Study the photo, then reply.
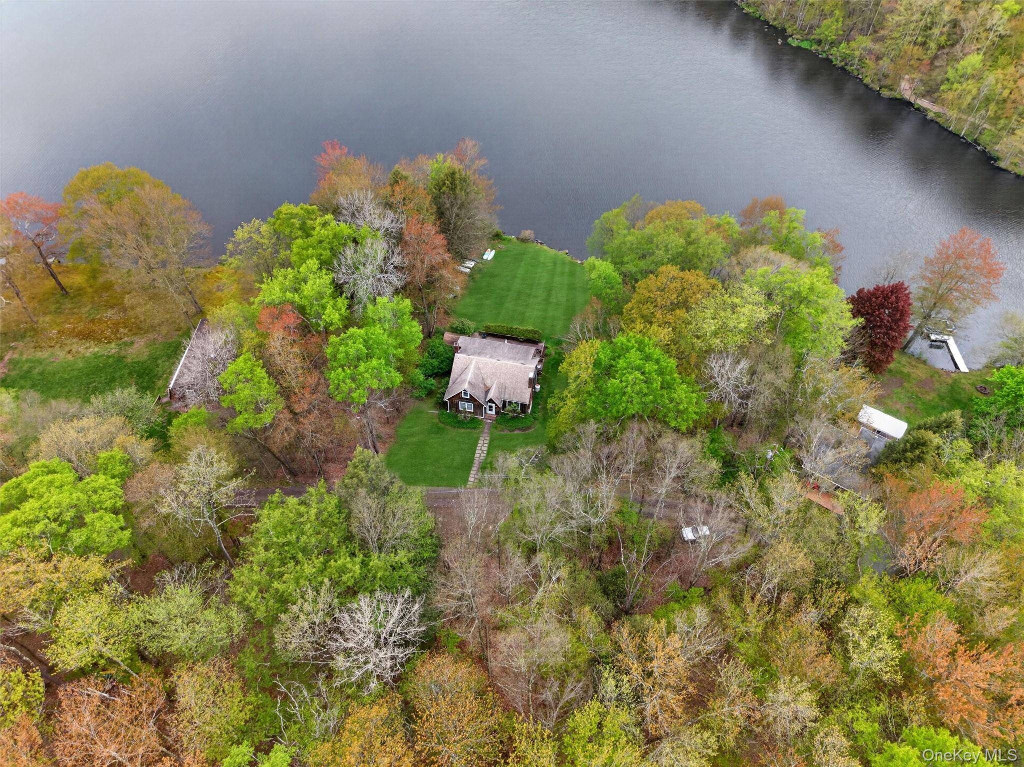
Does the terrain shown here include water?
Yes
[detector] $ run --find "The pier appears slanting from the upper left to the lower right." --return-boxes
[929,333,968,372]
